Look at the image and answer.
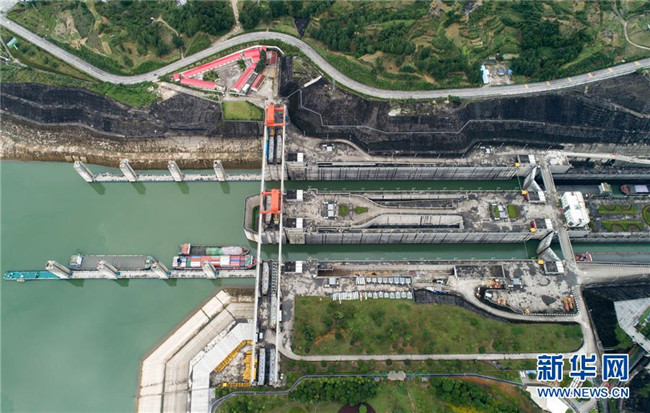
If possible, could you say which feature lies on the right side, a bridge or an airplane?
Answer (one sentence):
The one visible on the right side is a bridge.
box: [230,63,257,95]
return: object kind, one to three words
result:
building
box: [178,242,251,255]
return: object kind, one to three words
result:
ship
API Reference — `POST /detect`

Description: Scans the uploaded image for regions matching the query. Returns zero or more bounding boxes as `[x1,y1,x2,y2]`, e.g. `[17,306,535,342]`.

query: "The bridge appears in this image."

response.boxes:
[542,150,581,275]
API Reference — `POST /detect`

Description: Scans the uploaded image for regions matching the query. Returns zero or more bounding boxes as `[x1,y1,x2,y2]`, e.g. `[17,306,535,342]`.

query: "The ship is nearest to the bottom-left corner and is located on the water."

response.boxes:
[2,270,66,282]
